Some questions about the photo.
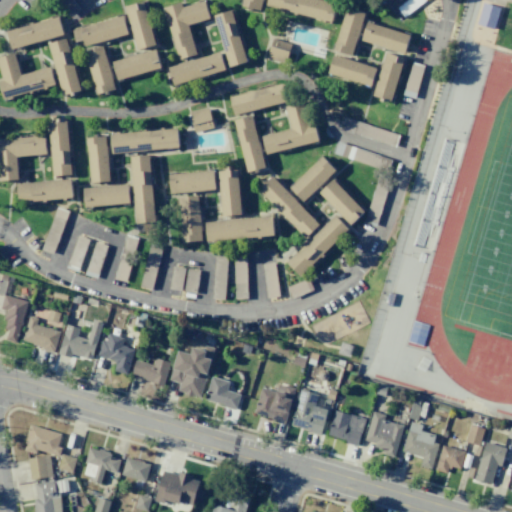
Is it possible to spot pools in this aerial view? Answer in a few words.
Yes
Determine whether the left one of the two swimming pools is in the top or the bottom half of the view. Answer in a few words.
top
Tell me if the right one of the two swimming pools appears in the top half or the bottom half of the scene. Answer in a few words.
top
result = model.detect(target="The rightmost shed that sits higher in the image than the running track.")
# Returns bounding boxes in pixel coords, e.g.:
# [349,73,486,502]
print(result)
[480,2,502,28]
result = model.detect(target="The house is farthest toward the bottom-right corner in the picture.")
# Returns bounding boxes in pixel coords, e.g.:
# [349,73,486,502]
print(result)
[476,444,508,485]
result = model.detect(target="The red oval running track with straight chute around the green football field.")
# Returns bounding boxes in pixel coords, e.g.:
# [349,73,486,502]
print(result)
[410,51,512,405]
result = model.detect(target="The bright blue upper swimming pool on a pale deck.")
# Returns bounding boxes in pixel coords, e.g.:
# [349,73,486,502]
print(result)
[285,24,330,58]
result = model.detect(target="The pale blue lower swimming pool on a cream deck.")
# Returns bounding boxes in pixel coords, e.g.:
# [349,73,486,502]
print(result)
[198,128,234,154]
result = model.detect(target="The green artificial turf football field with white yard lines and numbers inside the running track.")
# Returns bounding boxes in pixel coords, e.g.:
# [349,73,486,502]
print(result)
[442,90,512,384]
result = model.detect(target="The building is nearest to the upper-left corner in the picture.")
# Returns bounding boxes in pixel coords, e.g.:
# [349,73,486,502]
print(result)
[6,16,63,50]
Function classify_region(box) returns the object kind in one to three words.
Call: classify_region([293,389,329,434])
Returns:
house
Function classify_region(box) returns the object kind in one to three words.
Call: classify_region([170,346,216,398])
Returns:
house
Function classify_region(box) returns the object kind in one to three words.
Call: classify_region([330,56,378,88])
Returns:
building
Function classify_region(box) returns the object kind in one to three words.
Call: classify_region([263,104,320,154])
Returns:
building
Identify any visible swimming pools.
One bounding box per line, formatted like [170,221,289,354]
[198,128,234,154]
[285,24,330,58]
